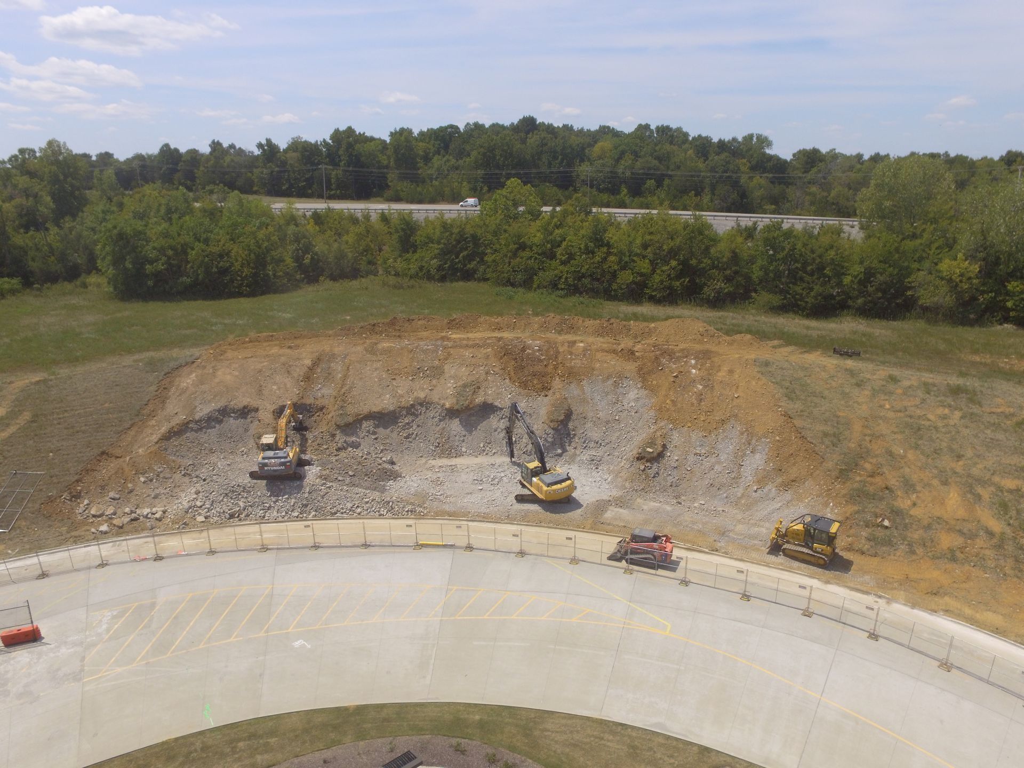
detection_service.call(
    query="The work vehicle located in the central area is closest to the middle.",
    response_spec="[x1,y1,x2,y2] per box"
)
[507,400,574,503]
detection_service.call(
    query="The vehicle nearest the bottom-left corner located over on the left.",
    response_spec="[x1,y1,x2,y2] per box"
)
[248,405,309,481]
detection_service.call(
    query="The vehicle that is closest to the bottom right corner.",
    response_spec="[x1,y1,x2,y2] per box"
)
[763,511,848,569]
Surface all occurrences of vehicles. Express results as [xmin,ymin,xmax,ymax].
[460,199,479,209]
[763,511,848,569]
[248,405,309,481]
[603,525,674,570]
[507,400,574,503]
